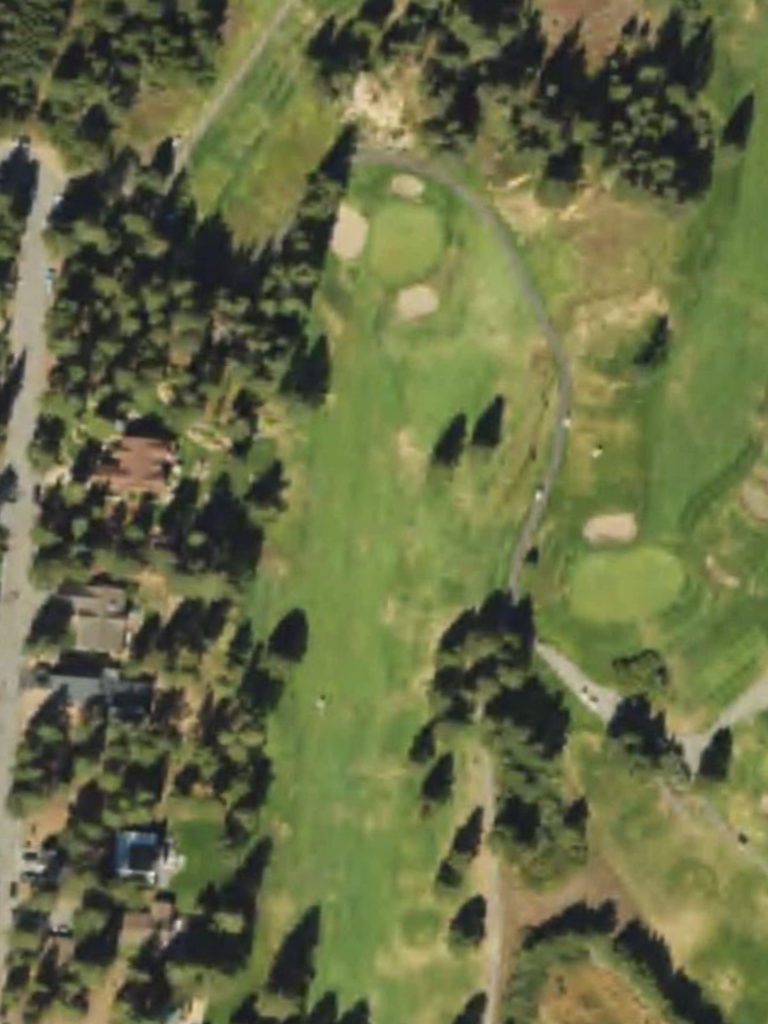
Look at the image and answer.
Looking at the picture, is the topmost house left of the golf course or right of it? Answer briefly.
left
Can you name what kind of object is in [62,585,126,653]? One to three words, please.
house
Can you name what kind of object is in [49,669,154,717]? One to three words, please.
house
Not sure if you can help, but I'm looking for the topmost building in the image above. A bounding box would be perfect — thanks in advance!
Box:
[96,435,176,494]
